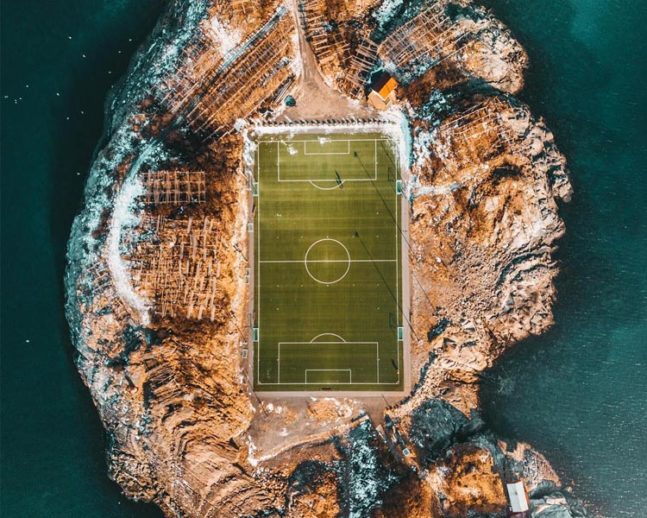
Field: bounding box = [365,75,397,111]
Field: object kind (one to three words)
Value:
house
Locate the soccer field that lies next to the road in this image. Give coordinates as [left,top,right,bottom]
[253,133,404,391]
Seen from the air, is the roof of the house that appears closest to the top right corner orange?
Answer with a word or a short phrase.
Yes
